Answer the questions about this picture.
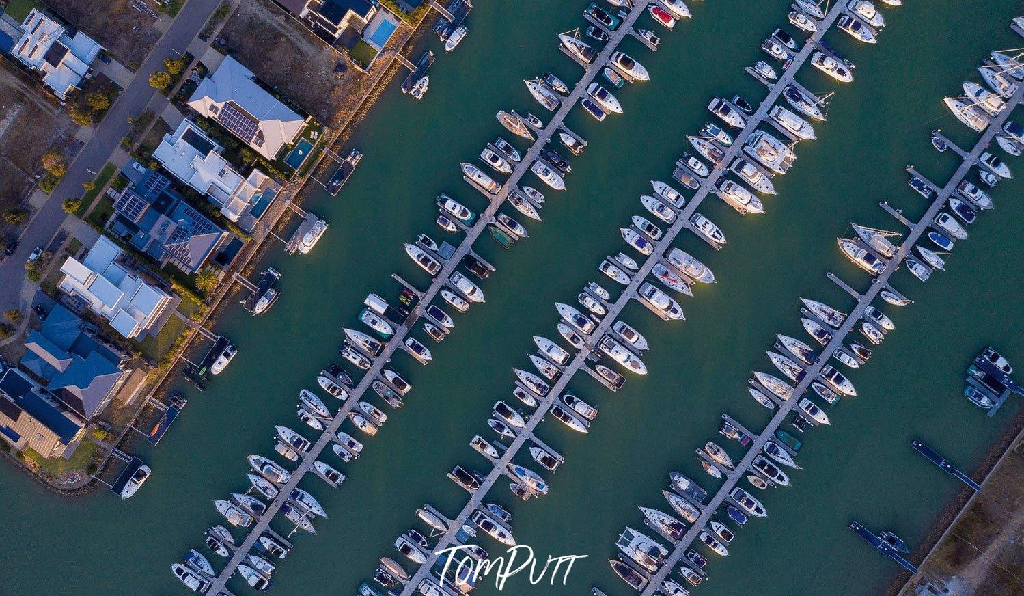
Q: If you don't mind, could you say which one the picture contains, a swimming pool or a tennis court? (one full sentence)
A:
Visible in the photo is a swimming pool.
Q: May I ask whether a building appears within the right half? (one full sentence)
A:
No, there's no building to be seen within the right half.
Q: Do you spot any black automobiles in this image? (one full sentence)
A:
Yes, the picture does show a black automobile.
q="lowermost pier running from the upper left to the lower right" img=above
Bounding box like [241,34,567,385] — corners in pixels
[850,521,923,578]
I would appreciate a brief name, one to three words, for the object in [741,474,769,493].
boat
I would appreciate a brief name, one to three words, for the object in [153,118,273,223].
house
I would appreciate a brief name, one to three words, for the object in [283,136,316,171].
swimming pool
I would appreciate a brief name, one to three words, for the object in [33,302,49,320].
car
